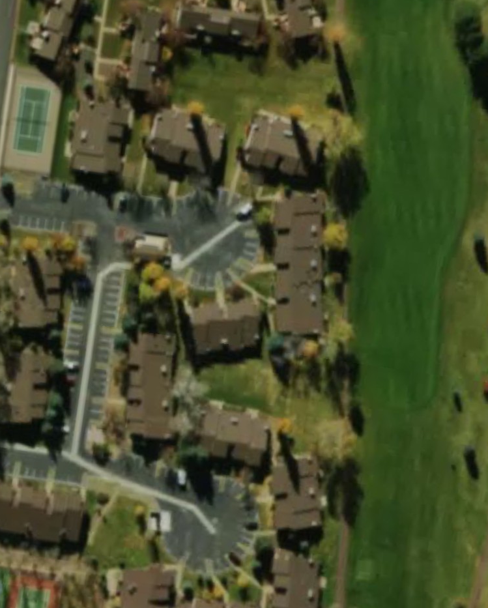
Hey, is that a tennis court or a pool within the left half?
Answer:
tennis court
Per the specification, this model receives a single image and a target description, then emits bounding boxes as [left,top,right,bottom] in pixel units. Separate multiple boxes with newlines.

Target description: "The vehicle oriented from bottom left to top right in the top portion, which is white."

[236,203,252,216]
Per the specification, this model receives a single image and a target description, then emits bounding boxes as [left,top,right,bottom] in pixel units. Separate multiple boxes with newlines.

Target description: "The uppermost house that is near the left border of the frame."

[22,0,75,58]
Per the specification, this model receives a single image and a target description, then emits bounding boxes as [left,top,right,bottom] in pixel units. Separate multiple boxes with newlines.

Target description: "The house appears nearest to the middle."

[189,298,265,363]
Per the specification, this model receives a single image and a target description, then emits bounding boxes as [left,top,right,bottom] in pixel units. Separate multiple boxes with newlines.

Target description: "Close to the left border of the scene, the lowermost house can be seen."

[0,480,86,547]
